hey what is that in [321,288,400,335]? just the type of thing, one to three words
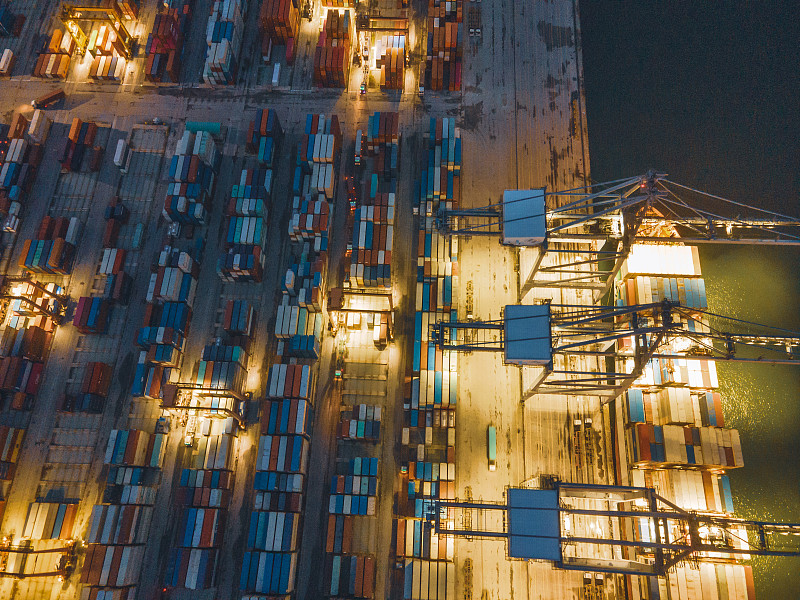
container crane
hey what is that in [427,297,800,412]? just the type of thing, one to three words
container crane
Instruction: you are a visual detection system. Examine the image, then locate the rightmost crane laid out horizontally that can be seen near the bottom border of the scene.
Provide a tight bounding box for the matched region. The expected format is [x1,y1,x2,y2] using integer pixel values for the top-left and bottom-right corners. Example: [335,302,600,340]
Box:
[421,473,800,577]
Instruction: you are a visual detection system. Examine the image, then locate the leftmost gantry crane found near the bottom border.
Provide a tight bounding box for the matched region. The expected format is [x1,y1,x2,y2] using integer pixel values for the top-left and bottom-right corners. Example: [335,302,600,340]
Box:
[0,533,80,580]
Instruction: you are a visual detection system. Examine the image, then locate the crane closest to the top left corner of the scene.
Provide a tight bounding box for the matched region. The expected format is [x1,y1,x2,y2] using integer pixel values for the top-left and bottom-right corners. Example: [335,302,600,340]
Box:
[64,4,142,56]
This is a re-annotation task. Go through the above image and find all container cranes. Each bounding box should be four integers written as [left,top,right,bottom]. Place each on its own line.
[0,277,72,323]
[421,473,800,577]
[352,14,415,67]
[64,4,142,56]
[321,288,400,335]
[427,297,800,412]
[0,533,80,580]
[157,382,252,426]
[432,175,800,305]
